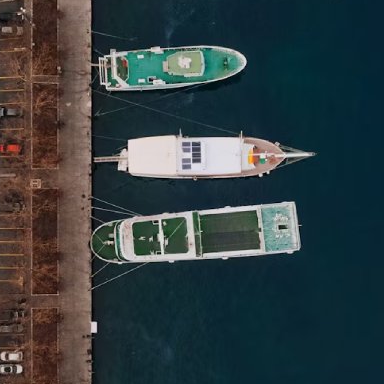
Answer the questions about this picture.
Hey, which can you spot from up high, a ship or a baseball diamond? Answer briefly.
ship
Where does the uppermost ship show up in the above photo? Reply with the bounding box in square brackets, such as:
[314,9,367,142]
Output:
[90,46,247,92]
